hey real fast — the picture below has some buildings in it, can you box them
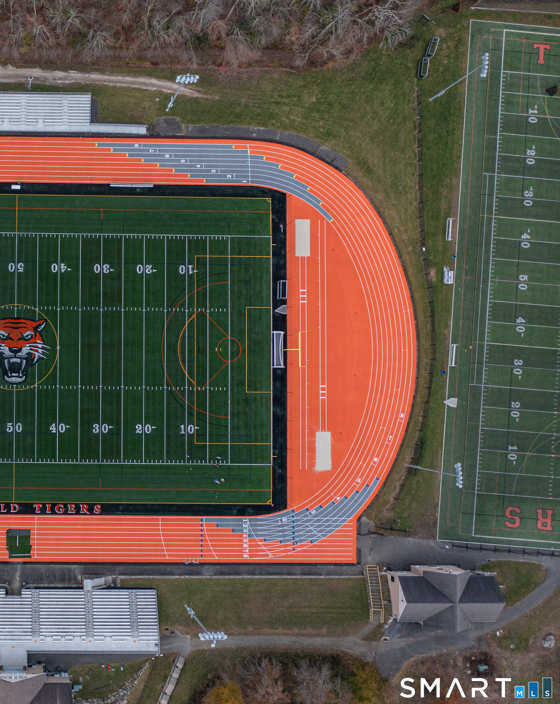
[388,565,505,634]
[0,662,72,704]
